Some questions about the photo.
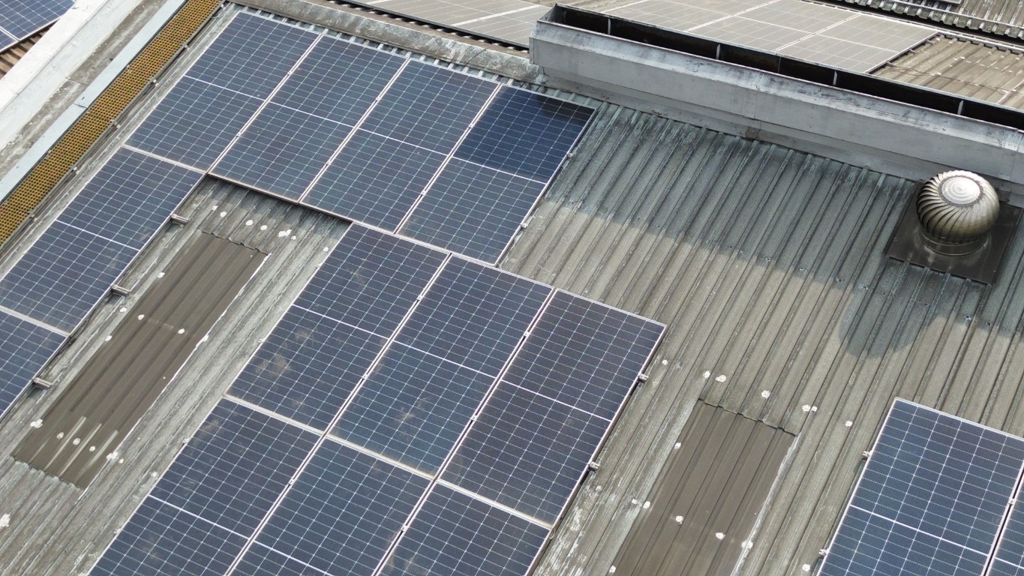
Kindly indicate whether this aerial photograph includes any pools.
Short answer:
No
